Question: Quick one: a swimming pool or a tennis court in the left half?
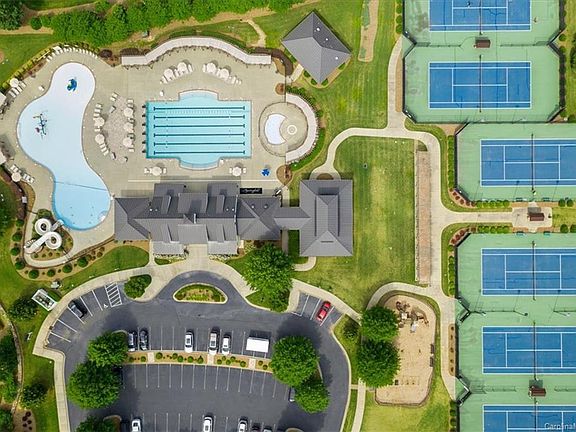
swimming pool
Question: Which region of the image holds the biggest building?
center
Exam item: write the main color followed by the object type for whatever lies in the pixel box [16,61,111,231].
white swimming pool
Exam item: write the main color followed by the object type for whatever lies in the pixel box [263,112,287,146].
white swimming pool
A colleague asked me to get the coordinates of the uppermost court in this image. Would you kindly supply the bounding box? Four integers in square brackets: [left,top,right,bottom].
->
[403,0,560,45]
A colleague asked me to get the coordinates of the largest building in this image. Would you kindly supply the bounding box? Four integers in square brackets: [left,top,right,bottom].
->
[113,180,353,256]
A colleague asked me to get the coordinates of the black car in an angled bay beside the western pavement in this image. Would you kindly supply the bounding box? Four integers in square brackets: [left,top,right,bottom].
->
[68,299,87,320]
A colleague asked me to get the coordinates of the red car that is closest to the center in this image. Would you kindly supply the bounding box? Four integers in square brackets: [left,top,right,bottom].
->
[317,302,330,323]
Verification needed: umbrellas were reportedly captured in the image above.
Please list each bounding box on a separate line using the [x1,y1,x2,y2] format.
[10,78,20,88]
[95,117,105,127]
[11,172,22,182]
[94,134,106,145]
[232,166,242,177]
[123,107,134,118]
[152,166,163,177]
[123,123,134,133]
[177,62,188,73]
[219,69,230,80]
[206,63,217,74]
[164,69,174,79]
[123,137,134,147]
